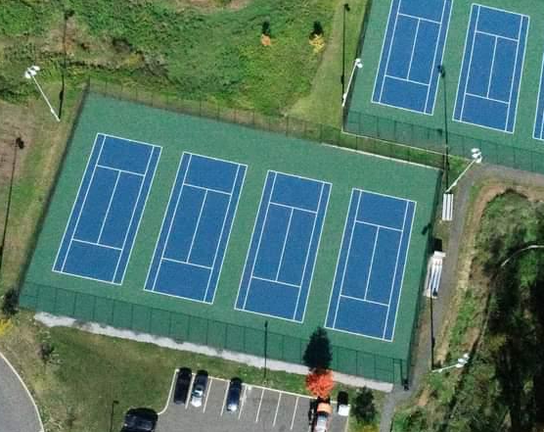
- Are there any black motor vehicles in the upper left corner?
No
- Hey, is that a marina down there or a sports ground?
sports ground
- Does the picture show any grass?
Yes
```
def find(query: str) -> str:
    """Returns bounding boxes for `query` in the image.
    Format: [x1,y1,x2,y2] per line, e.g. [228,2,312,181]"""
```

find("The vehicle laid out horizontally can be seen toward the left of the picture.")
[124,411,158,428]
